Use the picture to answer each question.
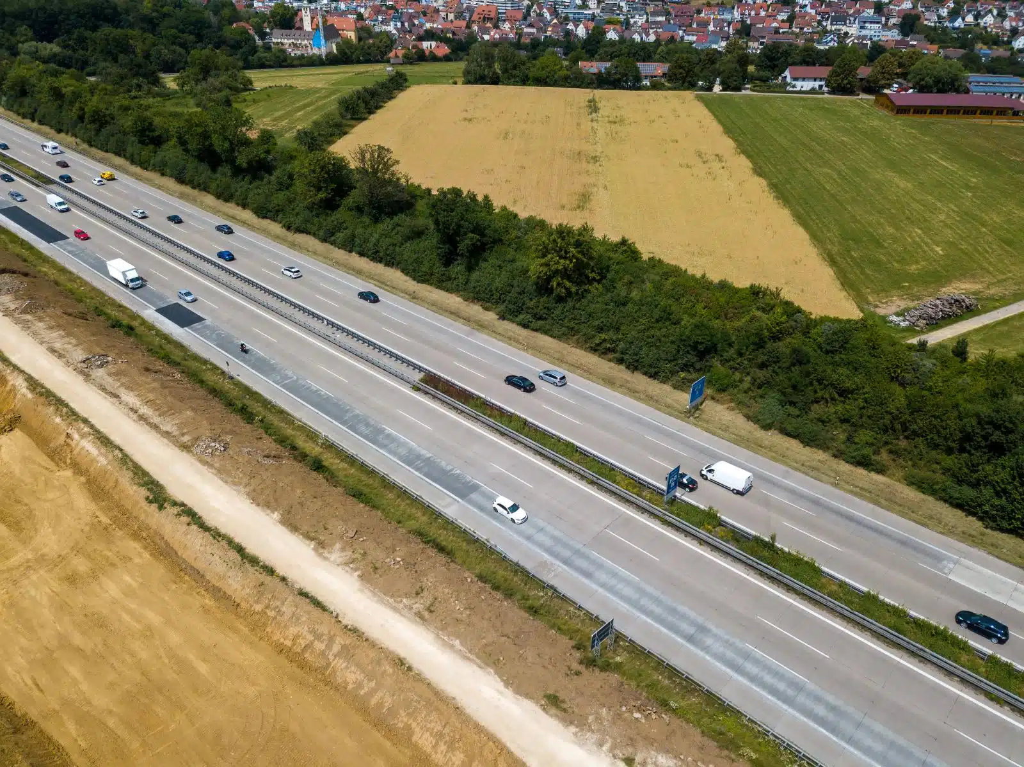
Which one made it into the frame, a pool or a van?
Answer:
van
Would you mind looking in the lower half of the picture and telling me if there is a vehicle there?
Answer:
Yes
